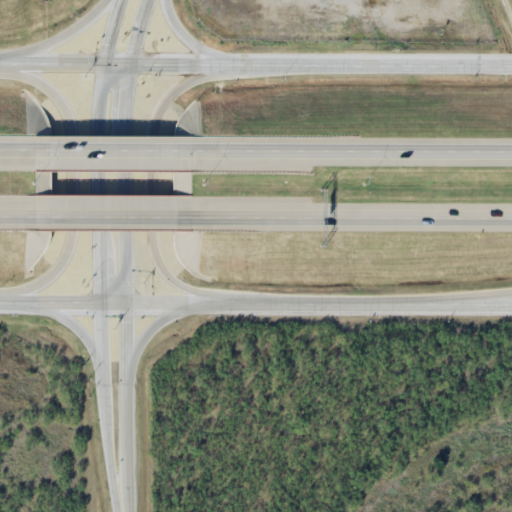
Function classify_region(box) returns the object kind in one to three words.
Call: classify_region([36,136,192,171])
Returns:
bridge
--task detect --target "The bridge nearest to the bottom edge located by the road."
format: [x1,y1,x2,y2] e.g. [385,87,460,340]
[36,195,192,230]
